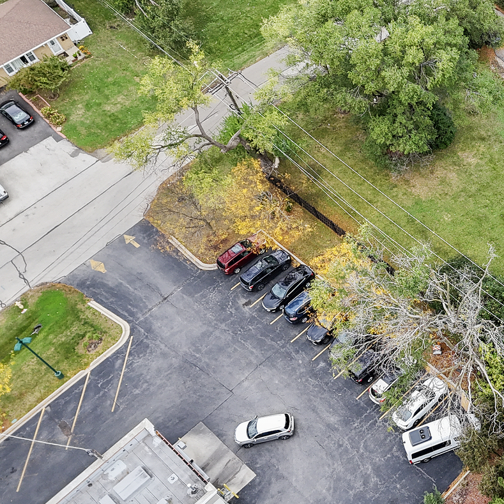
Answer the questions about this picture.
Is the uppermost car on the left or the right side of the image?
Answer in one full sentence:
The uppermost car is on the left side of the image.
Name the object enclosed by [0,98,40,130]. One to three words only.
car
